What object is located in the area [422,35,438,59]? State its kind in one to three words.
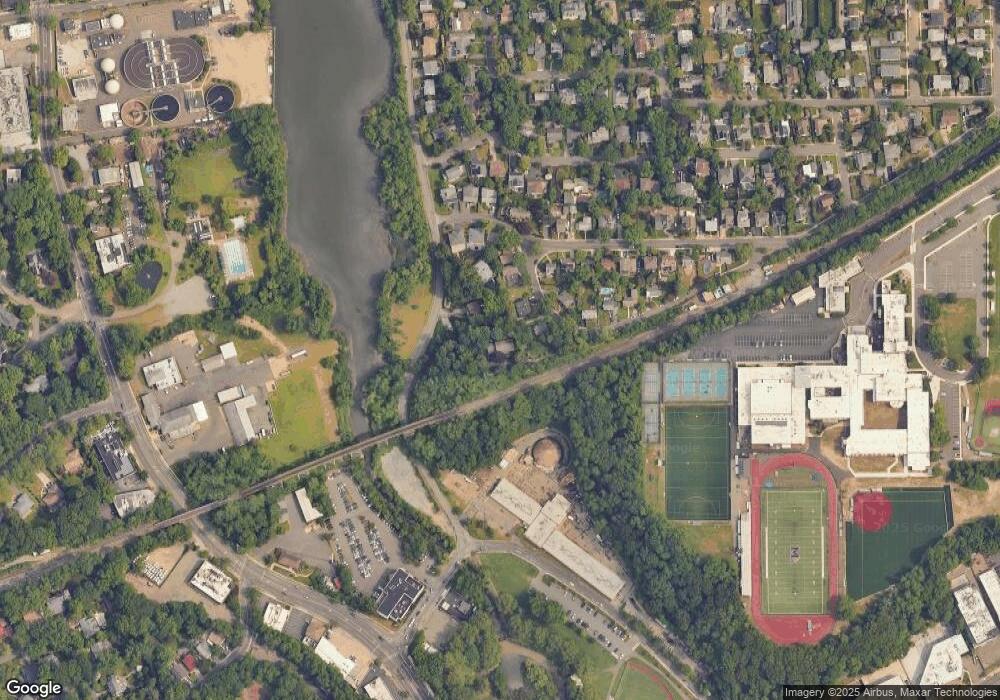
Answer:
house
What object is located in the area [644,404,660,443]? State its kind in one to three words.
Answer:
basketball court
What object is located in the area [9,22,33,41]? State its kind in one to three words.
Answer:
building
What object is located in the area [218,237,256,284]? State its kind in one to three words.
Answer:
swimming pool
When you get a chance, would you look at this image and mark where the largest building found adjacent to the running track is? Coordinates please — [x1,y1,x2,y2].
[738,280,930,473]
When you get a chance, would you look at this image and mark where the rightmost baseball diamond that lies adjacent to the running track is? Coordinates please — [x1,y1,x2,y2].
[846,485,954,602]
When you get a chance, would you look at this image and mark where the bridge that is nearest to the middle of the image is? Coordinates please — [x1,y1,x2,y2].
[233,413,432,500]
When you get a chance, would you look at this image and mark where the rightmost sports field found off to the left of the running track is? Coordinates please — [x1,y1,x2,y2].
[665,405,731,519]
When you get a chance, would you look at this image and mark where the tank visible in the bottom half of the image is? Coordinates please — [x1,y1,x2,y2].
[532,440,562,472]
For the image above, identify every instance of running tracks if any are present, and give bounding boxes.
[752,453,837,643]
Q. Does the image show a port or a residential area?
residential area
